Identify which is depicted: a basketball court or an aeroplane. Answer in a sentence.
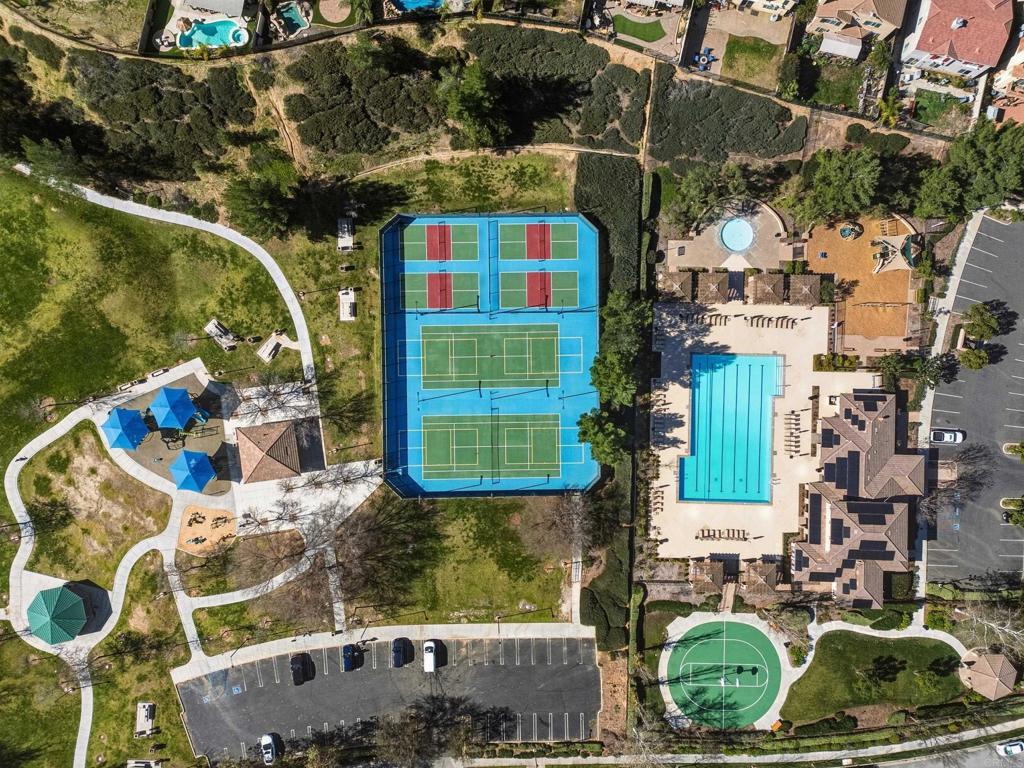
Visible in the photo is a basketball court.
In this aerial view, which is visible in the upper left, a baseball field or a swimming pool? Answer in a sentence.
The feature located in the upper left is a swimming pool.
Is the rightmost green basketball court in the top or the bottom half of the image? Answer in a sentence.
You can find the rightmost green basketball court in the bottom half.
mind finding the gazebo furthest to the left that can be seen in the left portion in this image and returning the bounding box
[27,584,93,644]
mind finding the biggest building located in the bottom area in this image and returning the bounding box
[791,393,925,610]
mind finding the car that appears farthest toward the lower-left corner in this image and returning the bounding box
[258,736,275,767]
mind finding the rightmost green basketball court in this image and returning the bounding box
[667,619,780,732]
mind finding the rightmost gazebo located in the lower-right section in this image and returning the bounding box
[961,651,1016,702]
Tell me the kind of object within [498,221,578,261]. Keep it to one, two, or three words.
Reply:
sports court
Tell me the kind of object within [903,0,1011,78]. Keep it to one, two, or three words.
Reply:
house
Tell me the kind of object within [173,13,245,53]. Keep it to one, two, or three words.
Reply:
swimming pool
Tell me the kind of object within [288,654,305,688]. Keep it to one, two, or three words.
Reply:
vehicle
